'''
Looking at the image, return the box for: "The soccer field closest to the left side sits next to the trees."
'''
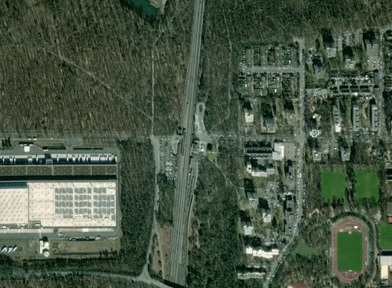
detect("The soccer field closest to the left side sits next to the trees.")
[321,169,346,202]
